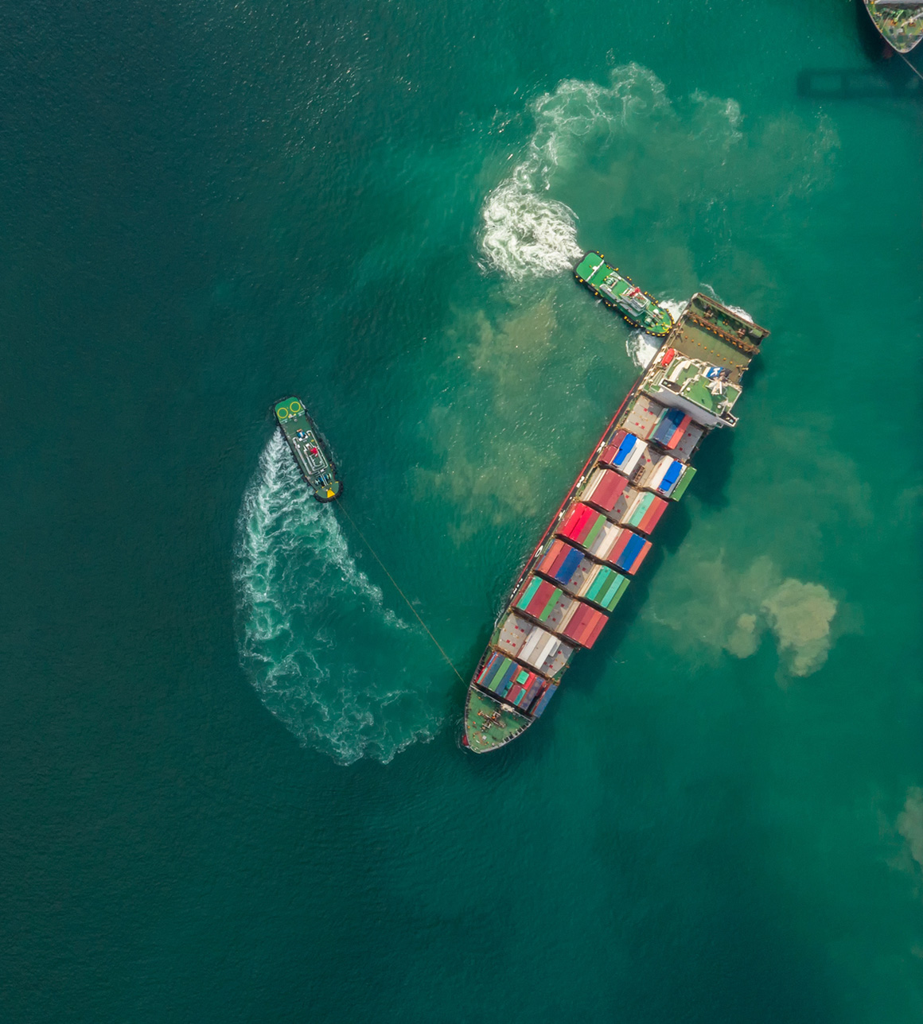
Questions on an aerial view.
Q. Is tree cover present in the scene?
No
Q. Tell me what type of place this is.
port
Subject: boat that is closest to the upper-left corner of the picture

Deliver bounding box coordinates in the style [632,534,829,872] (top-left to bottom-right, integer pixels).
[274,396,343,503]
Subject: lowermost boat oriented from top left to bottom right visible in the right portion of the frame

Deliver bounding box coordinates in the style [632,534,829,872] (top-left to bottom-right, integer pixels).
[571,252,672,335]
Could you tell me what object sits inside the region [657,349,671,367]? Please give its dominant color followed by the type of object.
red boat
